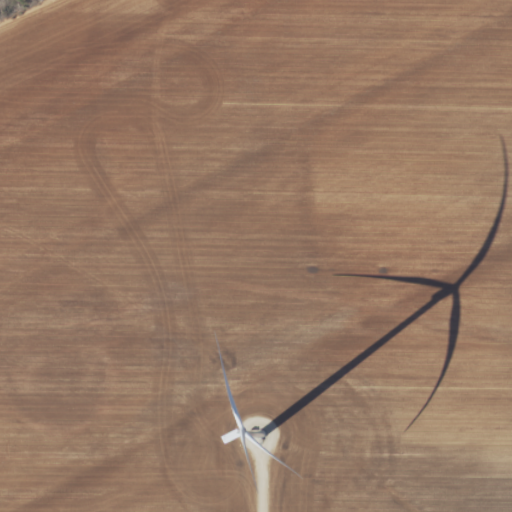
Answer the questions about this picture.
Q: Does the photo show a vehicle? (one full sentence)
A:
No, there's no vehicle here.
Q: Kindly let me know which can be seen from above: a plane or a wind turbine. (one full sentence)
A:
Looking from above, you can make out a wind turbine.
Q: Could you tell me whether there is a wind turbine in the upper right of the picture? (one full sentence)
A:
No, I see no wind turbine in the upper right of the picture.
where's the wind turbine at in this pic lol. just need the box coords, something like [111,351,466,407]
[213,328,317,490]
